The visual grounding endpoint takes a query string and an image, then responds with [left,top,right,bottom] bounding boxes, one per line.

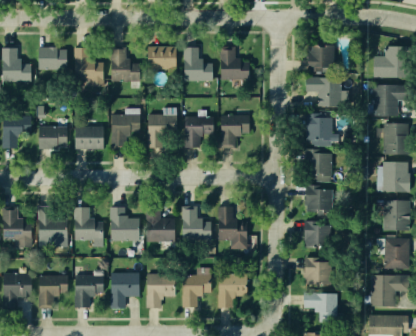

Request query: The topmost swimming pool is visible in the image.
[337,38,350,71]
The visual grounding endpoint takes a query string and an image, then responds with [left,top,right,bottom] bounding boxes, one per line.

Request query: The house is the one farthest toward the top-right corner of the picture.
[374,46,409,78]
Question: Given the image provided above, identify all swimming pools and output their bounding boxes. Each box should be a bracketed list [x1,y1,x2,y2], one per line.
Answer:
[335,117,348,132]
[337,38,350,71]
[154,72,167,86]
